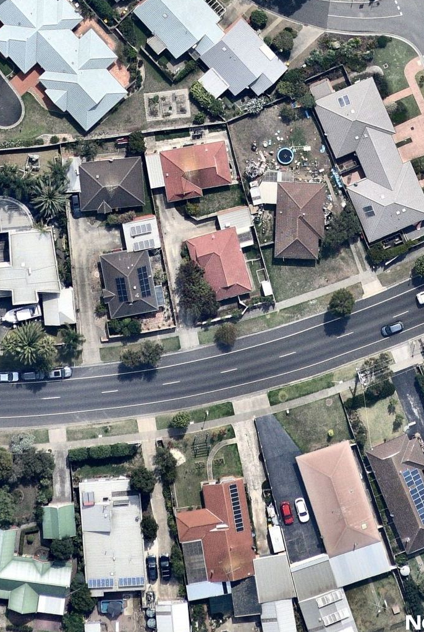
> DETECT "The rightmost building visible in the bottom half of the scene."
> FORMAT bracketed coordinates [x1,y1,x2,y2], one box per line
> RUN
[366,434,424,554]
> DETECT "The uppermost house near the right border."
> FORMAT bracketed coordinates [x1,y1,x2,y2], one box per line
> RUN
[308,78,424,242]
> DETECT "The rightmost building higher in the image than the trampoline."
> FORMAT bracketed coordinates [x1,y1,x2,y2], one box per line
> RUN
[198,19,288,98]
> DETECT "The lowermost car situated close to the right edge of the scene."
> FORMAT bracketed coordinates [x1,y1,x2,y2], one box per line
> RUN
[380,321,404,337]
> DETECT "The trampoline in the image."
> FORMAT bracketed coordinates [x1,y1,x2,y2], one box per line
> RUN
[276,147,294,164]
